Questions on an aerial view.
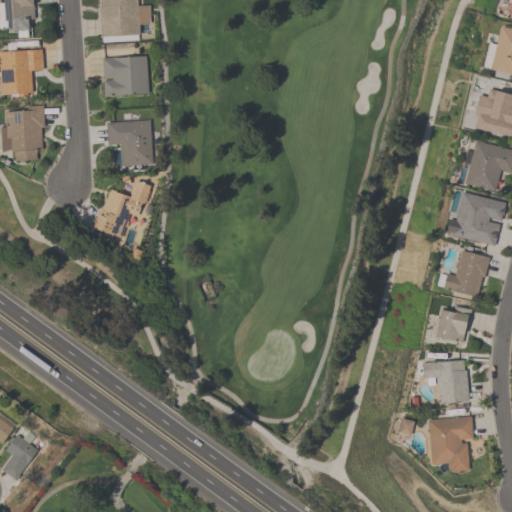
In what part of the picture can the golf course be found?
center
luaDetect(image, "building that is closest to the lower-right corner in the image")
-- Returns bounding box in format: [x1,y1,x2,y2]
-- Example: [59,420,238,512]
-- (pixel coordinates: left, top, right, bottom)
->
[429,416,475,472]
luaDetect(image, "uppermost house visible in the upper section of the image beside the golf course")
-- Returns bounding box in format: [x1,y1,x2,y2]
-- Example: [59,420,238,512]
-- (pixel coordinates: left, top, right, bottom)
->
[102,0,151,42]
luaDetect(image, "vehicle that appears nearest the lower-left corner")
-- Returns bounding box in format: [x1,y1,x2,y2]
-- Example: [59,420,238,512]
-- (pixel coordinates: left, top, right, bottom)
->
[16,344,57,376]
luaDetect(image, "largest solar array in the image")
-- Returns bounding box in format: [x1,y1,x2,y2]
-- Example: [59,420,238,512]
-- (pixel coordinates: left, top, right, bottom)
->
[110,198,130,233]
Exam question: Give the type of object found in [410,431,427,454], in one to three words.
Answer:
swimming pool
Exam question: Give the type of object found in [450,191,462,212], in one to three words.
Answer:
swimming pool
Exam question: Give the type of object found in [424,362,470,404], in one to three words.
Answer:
house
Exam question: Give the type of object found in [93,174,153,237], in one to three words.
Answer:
house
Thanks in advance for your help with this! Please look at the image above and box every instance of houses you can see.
[0,50,44,98]
[436,304,472,342]
[2,105,45,162]
[429,416,475,472]
[102,0,151,42]
[492,26,512,79]
[465,140,512,192]
[476,87,512,136]
[424,362,470,404]
[447,190,511,245]
[0,416,16,446]
[443,251,492,300]
[0,0,35,38]
[108,120,154,167]
[103,56,149,97]
[93,174,153,237]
